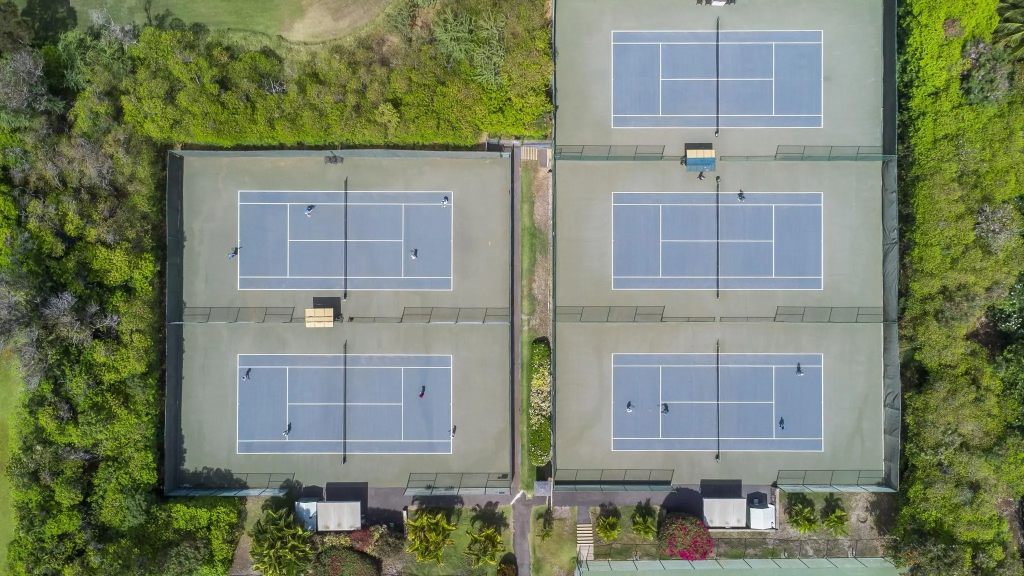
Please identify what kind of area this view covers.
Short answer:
sports ground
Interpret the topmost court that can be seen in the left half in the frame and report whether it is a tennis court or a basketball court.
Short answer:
tennis court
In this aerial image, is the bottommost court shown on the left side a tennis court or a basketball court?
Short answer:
tennis court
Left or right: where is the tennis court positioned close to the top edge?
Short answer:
right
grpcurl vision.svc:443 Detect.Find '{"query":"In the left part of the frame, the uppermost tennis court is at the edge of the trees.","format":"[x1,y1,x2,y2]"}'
[180,156,511,322]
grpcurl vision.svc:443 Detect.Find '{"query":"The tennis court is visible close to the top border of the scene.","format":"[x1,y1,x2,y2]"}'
[555,0,883,160]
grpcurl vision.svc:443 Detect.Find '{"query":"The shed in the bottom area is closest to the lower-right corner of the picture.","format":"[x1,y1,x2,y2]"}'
[746,500,774,530]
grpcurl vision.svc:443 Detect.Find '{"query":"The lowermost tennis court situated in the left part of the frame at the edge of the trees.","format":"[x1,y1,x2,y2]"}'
[180,322,511,487]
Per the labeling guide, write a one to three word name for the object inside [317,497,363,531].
shed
